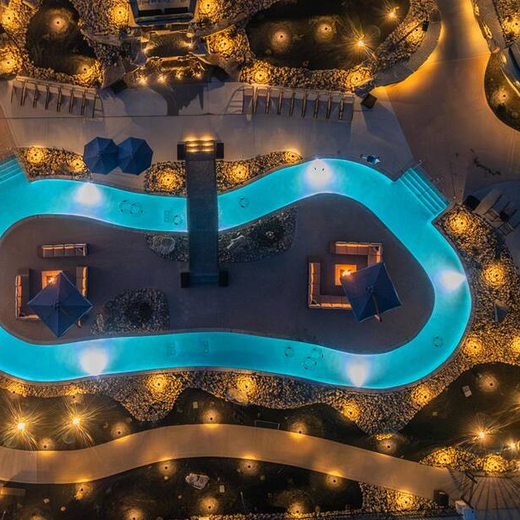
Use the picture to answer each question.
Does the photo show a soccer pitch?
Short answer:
No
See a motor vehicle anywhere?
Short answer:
No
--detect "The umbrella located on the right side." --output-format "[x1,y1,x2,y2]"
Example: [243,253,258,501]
[342,263,402,331]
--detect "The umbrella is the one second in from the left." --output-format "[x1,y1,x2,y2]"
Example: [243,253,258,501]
[81,136,118,178]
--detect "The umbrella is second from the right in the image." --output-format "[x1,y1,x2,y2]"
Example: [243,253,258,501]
[115,134,158,177]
